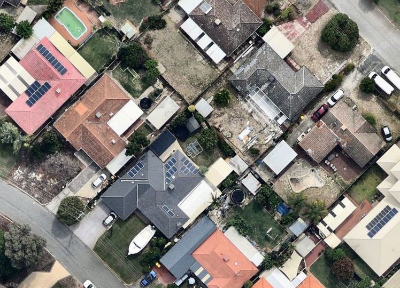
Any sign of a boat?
Yes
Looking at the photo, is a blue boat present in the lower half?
No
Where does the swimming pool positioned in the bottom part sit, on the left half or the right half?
right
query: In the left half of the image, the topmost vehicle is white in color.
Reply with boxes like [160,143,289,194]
[92,171,107,189]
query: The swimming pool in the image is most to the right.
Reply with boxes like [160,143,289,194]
[290,167,326,193]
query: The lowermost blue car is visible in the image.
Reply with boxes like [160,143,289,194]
[141,269,156,287]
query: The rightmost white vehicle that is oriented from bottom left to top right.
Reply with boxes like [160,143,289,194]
[328,88,344,106]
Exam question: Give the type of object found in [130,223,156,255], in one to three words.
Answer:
boat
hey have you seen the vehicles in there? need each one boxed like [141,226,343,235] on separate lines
[382,124,392,142]
[102,209,117,226]
[84,279,97,288]
[371,70,394,96]
[313,103,328,121]
[383,64,400,90]
[92,171,107,189]
[141,269,156,287]
[328,88,344,106]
